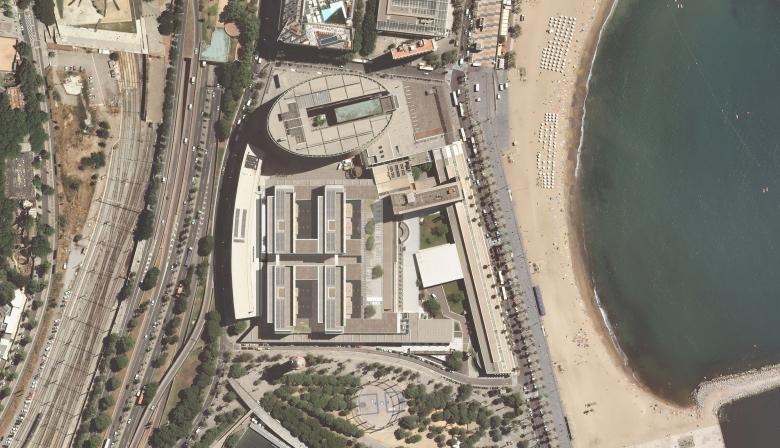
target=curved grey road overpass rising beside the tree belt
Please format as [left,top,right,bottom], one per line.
[126,236,216,448]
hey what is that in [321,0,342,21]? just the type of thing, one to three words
swimming pool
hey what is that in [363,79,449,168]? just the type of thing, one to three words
building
